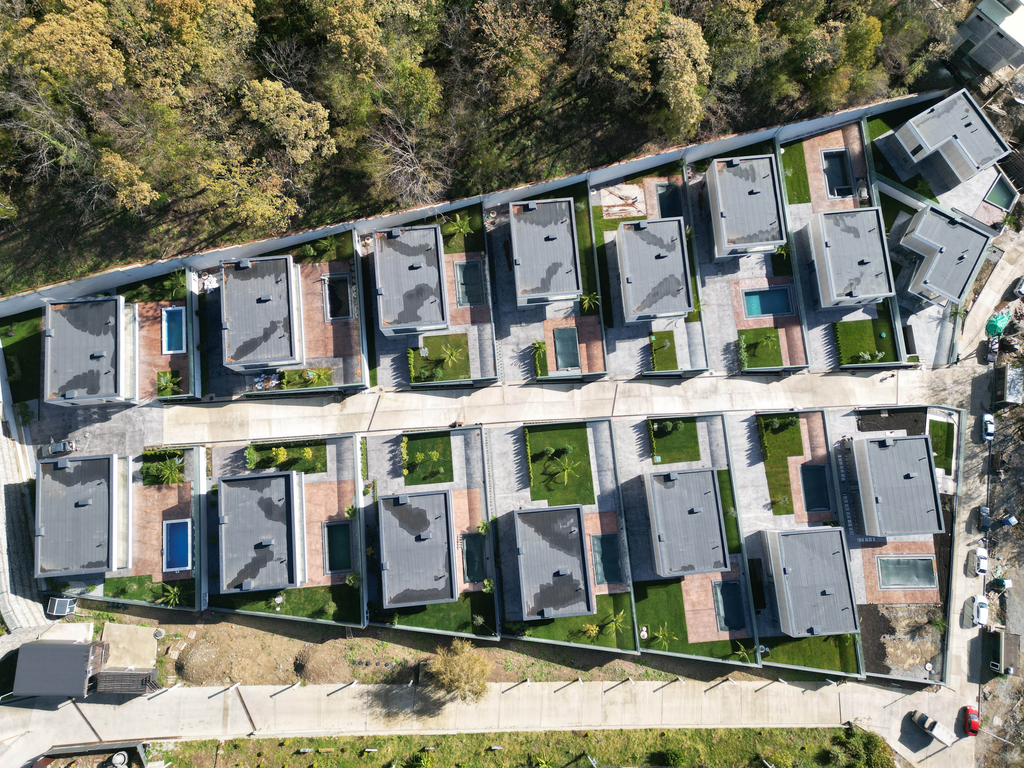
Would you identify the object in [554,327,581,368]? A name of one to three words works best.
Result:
swimming pool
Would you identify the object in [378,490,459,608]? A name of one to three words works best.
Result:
house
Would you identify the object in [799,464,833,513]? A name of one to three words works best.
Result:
swimming pool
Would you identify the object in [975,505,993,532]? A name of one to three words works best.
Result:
car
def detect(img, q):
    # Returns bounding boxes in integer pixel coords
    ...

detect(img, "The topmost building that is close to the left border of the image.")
[43,295,140,407]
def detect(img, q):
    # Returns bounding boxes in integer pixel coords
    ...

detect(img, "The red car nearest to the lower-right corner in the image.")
[962,704,981,737]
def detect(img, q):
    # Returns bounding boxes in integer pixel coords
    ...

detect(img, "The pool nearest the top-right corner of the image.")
[984,173,1017,212]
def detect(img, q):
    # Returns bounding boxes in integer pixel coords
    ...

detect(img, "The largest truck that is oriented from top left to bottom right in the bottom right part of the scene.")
[911,711,966,754]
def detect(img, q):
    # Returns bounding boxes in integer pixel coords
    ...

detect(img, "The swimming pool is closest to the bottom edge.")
[712,579,746,632]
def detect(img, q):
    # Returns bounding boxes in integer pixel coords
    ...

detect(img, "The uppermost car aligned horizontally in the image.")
[43,441,78,457]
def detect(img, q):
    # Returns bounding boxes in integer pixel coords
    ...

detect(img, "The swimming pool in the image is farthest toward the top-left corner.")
[161,306,186,354]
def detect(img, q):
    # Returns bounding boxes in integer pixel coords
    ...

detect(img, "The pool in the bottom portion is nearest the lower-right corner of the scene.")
[875,554,939,590]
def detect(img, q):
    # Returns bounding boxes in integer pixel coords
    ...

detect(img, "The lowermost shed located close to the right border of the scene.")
[992,629,1023,676]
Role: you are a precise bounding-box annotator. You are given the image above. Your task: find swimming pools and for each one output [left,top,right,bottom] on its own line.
[984,173,1017,212]
[161,306,186,354]
[554,327,581,368]
[740,284,797,318]
[712,579,746,632]
[875,554,939,590]
[799,464,833,513]
[321,520,355,576]
[461,533,487,583]
[591,533,624,586]
[656,180,684,219]
[454,259,486,308]
[819,147,857,201]
[321,271,354,322]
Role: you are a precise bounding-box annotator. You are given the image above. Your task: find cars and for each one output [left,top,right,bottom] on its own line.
[43,441,78,457]
[962,704,981,737]
[1008,271,1024,303]
[975,505,993,532]
[983,336,1000,366]
[978,413,995,441]
[970,594,990,625]
[972,547,991,575]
